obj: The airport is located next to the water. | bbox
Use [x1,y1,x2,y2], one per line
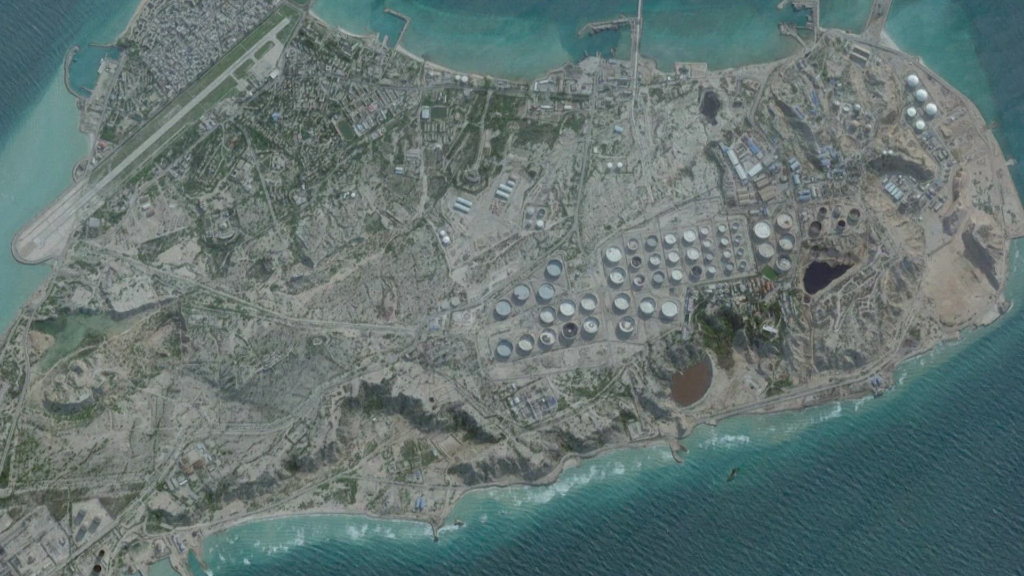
[14,4,299,262]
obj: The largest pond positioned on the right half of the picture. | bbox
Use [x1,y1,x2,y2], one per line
[670,354,713,407]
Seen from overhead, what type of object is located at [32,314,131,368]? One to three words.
pond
